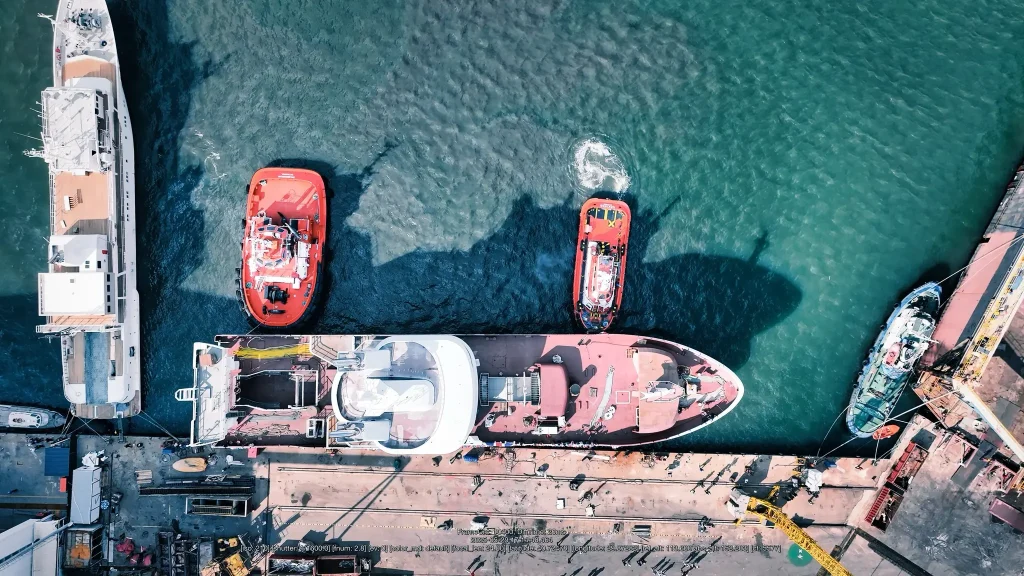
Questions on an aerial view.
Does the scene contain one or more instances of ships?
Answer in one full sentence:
Yes, you can see a ship in this photo.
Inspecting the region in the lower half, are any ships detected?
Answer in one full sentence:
Yes, a ship can be seen in the lower half.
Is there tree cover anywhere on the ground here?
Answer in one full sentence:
No, there is no tree cover in the image.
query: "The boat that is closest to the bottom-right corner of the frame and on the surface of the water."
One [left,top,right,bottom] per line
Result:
[873,425,900,439]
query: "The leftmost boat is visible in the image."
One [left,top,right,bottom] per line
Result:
[0,404,72,428]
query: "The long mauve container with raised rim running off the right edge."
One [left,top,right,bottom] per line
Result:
[982,495,1024,527]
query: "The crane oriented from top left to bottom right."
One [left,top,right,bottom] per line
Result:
[724,482,866,576]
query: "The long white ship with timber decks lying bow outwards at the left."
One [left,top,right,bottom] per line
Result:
[20,0,148,438]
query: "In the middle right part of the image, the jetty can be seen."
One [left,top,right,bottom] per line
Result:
[905,167,1024,430]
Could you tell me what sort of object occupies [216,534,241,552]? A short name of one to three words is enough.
work vehicle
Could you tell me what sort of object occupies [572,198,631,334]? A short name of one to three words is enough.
boat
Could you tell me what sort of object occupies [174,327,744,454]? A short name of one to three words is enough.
ship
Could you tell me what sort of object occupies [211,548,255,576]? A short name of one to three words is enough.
work vehicle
